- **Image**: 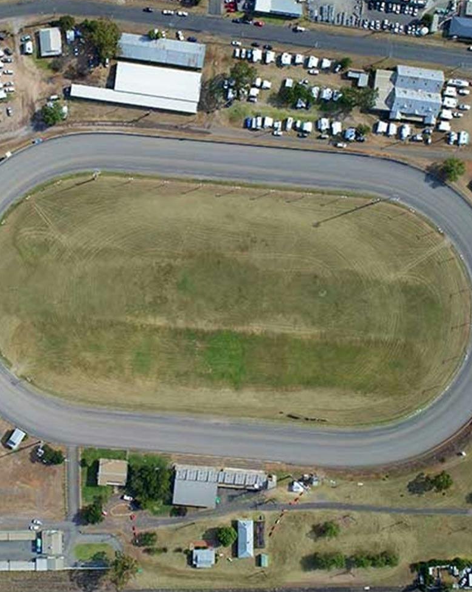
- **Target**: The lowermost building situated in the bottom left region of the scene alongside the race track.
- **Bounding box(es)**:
[98,458,127,486]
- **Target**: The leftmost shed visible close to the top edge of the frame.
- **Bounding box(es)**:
[40,27,63,56]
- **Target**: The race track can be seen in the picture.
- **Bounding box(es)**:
[0,132,472,468]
